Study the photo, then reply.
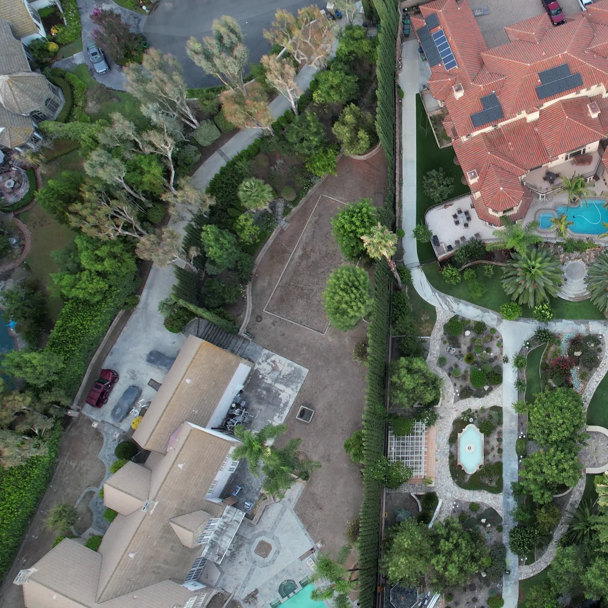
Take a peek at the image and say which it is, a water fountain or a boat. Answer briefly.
water fountain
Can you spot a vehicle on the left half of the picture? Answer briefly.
Yes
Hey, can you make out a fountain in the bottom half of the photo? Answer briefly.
Yes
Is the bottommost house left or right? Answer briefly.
left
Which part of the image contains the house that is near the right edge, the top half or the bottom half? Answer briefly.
top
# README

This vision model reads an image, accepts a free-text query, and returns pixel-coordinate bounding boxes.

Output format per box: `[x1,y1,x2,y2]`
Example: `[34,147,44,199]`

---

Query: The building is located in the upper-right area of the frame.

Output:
[411,0,608,227]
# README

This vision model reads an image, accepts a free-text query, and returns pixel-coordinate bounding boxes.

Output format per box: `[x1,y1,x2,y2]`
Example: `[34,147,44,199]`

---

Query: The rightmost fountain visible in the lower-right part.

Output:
[456,424,485,473]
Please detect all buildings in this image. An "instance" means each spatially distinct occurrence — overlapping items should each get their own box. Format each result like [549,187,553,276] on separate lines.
[411,0,608,227]
[15,421,238,608]
[0,0,66,161]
